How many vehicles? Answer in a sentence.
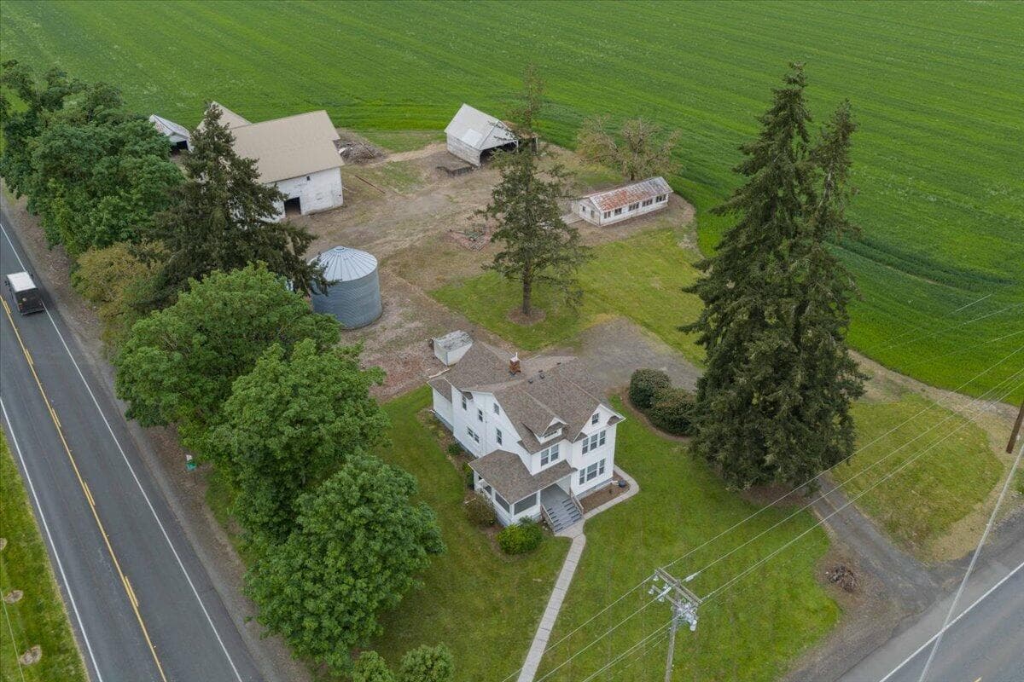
The count comes to 1 vehicle.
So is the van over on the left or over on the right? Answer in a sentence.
The van appears in the left half of the scene.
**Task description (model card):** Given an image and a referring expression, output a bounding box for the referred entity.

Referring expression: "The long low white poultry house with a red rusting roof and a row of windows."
[568,177,675,225]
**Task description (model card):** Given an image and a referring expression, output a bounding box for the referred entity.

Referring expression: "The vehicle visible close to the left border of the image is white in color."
[4,271,43,312]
